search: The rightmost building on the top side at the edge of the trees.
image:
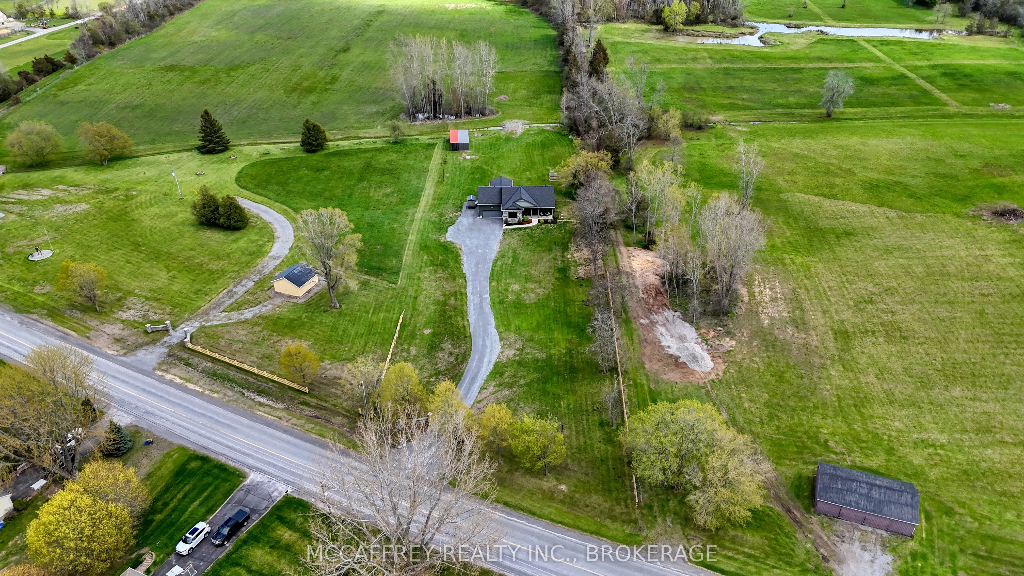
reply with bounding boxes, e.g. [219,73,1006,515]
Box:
[477,175,556,221]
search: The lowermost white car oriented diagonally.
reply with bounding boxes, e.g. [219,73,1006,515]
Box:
[175,521,211,555]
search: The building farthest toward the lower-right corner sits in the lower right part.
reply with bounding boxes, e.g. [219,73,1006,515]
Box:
[815,455,920,537]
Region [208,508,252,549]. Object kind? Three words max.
truck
